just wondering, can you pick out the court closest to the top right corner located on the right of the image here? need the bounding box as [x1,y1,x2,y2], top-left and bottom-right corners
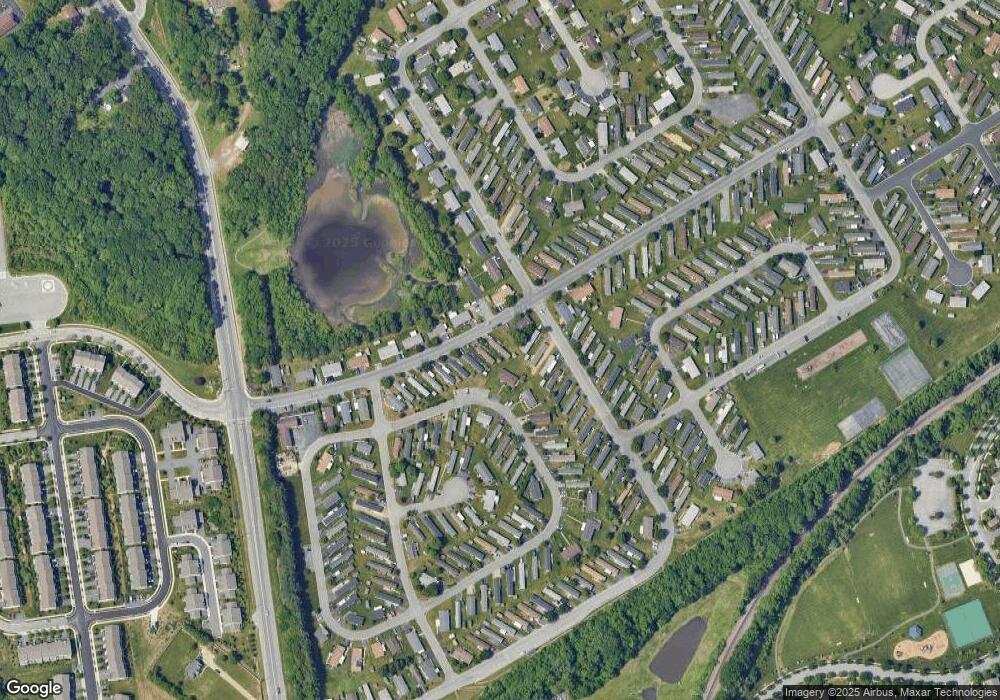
[871,312,908,353]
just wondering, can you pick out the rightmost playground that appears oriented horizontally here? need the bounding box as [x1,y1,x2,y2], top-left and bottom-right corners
[892,630,948,658]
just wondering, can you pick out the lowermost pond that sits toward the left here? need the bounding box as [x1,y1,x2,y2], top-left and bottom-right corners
[289,166,408,327]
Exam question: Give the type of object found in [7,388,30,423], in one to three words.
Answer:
house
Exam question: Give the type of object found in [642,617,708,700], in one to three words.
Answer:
pond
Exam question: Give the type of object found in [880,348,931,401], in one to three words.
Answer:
tennis court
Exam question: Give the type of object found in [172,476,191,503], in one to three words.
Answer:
house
